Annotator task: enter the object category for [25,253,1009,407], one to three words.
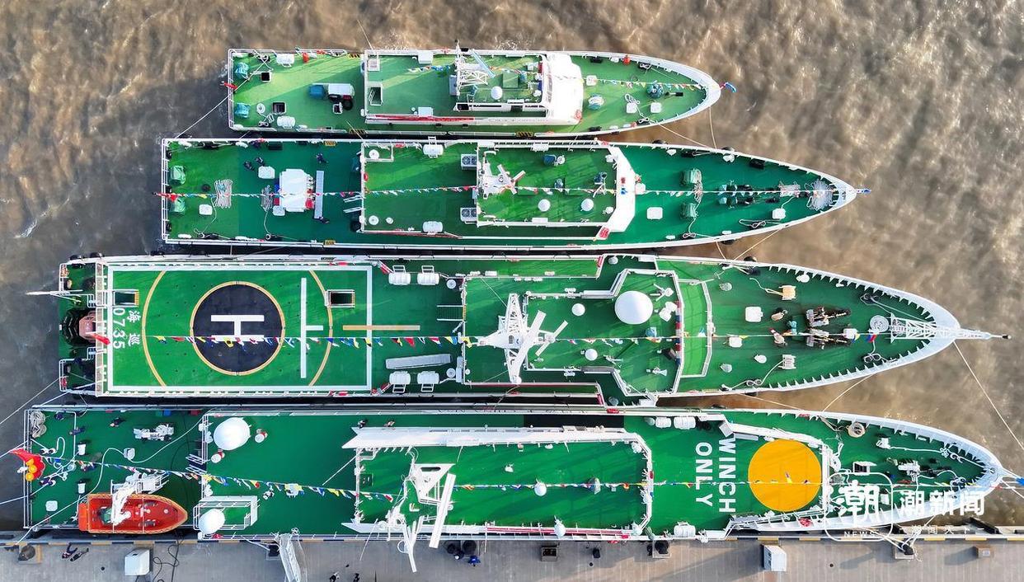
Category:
ship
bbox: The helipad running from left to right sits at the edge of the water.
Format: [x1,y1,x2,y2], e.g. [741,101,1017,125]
[104,264,373,392]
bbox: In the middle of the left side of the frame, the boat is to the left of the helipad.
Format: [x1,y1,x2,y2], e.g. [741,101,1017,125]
[51,307,94,349]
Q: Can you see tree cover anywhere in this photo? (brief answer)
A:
No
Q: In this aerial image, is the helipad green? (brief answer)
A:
Yes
